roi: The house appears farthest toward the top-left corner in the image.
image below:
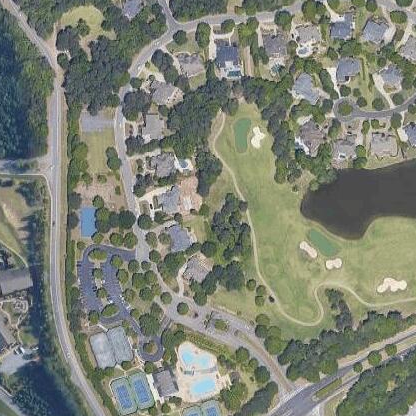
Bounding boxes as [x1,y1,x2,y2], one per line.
[121,0,142,20]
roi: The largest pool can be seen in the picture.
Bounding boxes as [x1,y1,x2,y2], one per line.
[176,341,231,401]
